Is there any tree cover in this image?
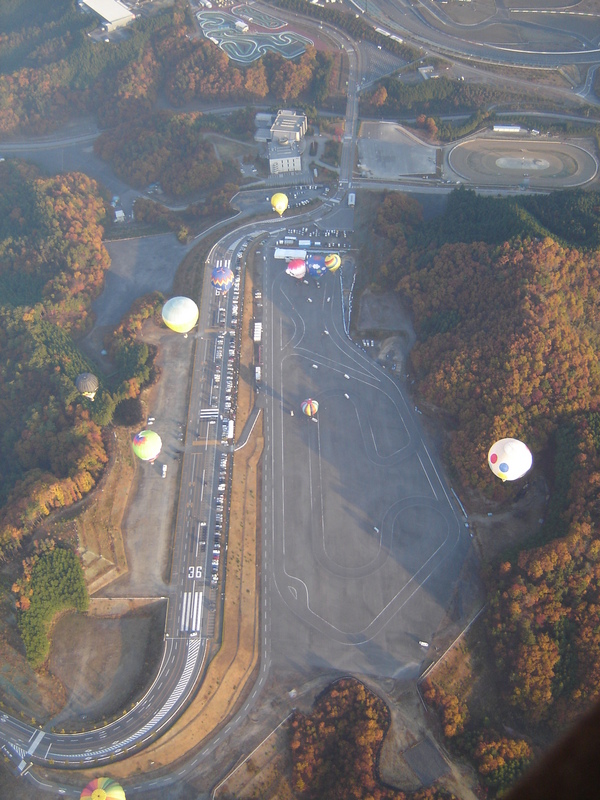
Yes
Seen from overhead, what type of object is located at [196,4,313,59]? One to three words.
race track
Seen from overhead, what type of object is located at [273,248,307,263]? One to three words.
shed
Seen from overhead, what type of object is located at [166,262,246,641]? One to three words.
runway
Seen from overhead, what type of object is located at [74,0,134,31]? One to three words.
building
